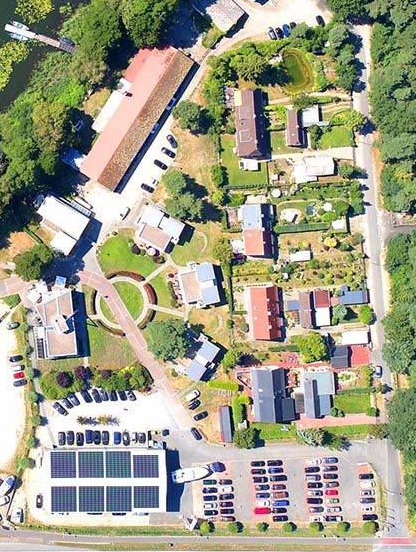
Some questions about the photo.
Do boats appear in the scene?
Yes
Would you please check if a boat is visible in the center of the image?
No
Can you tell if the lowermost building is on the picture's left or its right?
left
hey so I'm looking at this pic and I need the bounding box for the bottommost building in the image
[46,442,167,513]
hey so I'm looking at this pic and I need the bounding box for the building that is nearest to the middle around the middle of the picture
[180,261,220,305]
